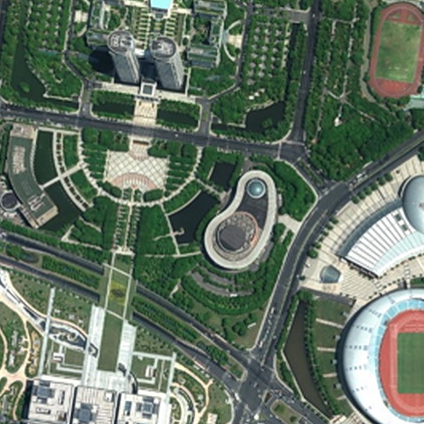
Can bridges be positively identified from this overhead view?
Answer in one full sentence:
Yes, there is a bridge in the image.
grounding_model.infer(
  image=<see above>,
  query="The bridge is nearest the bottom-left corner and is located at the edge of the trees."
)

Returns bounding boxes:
[99,258,135,322]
